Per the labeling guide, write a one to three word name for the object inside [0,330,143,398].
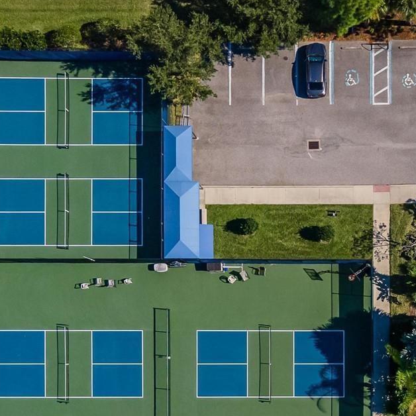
sports court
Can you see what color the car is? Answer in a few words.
black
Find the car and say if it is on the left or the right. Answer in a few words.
right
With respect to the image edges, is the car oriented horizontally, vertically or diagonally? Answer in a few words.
vertically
